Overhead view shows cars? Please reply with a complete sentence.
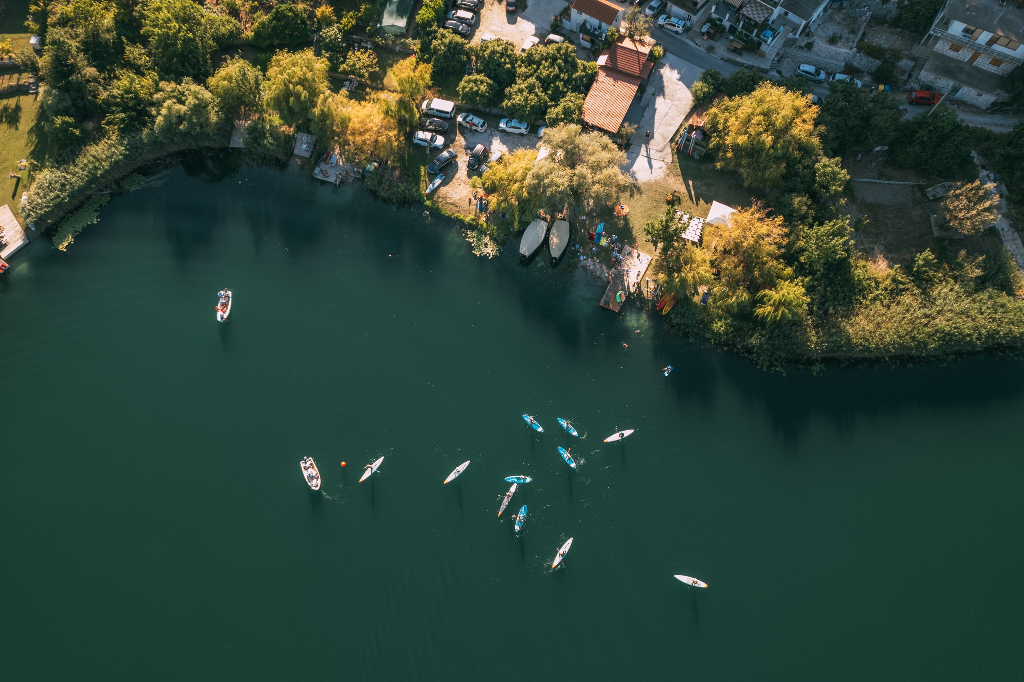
Yes, there's a car down there.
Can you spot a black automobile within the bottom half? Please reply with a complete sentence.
No, I see no black automobile within the bottom half.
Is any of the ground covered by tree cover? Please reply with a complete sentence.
Yes, some tree cover is visible.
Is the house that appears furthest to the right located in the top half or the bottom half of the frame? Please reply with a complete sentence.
You can find the house that appears furthest to the right in the top half.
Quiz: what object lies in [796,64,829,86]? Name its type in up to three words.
car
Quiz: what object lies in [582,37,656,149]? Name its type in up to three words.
building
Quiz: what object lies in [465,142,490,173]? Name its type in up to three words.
car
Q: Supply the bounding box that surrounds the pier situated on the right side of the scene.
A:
[599,246,652,315]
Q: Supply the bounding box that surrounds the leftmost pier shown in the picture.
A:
[0,206,32,260]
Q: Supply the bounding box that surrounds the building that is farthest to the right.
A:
[910,0,1024,113]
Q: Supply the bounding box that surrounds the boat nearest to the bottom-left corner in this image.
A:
[300,456,320,491]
